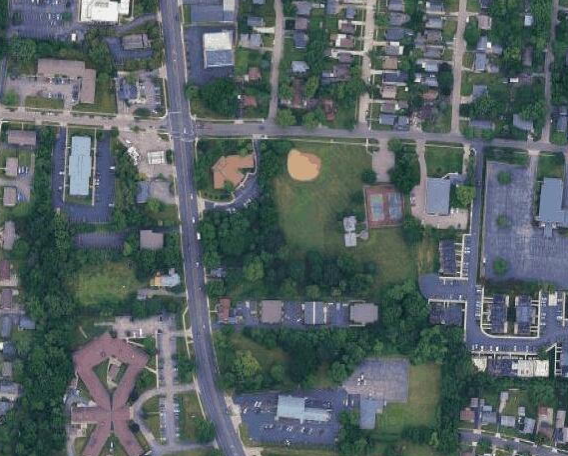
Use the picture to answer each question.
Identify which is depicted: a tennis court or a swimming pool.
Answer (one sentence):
This aerial view contains a tennis court.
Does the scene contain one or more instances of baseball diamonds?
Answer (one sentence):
Yes, the frame does contain a baseball diamond.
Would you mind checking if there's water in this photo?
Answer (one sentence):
No, the scene doesn't show any water.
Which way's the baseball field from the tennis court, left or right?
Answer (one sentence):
The tennis court has the baseball field on its left side.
